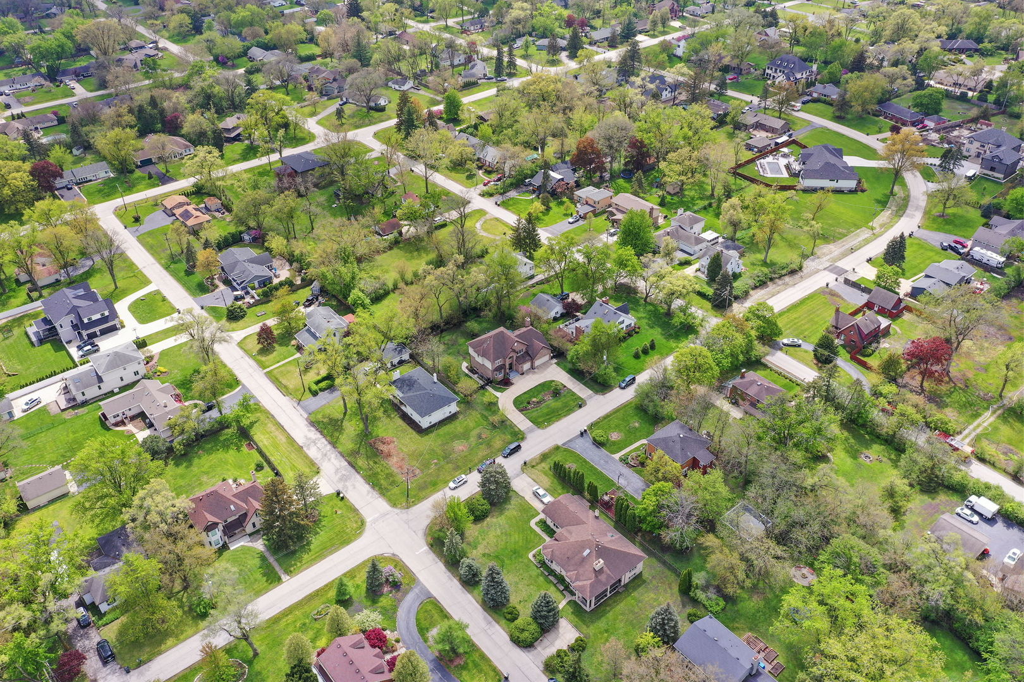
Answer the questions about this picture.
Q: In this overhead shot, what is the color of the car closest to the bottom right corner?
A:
white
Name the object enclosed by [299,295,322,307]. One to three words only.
vehicle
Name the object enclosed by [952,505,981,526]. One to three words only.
car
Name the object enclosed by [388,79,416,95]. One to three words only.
building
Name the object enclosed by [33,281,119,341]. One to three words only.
house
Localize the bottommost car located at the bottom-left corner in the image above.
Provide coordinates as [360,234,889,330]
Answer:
[95,637,116,665]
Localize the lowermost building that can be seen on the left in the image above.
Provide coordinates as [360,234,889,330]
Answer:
[312,633,385,682]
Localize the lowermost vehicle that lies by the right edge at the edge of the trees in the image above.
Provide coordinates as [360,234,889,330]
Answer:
[1002,548,1023,568]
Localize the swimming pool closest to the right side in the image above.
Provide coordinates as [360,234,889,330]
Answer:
[766,161,784,174]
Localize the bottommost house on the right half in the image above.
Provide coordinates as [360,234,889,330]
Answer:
[673,615,779,682]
